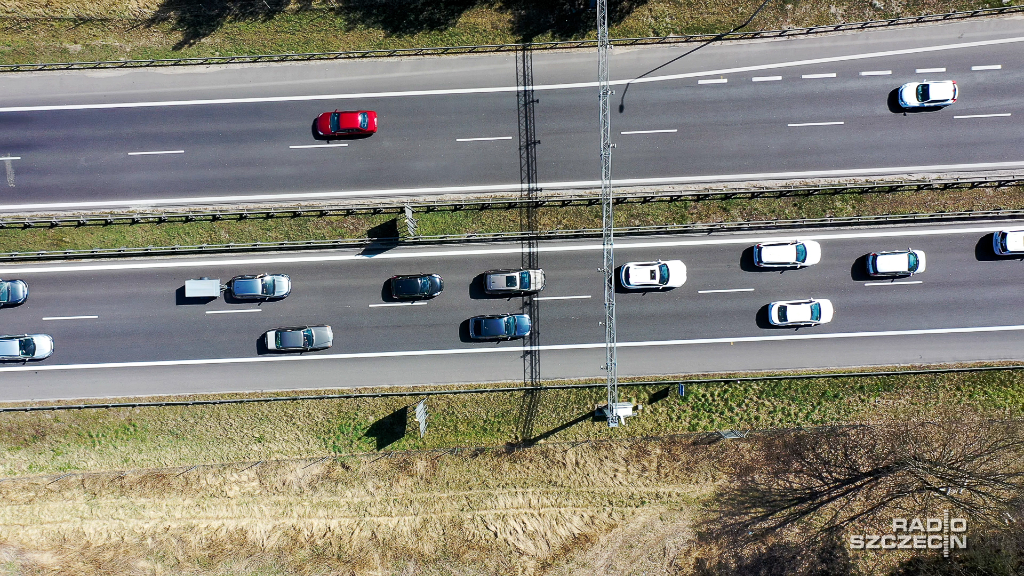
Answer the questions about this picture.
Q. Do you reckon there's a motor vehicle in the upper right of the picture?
Yes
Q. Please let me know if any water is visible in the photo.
No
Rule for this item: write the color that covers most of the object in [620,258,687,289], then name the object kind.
white car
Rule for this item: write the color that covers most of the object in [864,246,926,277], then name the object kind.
white car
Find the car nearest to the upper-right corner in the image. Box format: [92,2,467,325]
[896,78,959,109]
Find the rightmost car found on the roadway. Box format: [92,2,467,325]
[991,231,1024,257]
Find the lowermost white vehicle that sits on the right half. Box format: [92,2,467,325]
[767,296,834,327]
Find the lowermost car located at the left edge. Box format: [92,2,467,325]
[0,331,56,362]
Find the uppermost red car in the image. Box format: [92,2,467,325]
[316,107,378,138]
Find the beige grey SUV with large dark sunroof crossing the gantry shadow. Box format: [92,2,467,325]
[483,265,546,296]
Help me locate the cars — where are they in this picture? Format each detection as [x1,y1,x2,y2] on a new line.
[230,271,292,302]
[264,322,335,353]
[0,276,31,307]
[0,331,56,362]
[991,231,1024,257]
[316,107,378,138]
[483,265,546,296]
[896,78,959,109]
[469,311,532,341]
[391,271,444,301]
[767,296,834,327]
[864,246,926,277]
[753,237,821,269]
[620,258,687,289]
